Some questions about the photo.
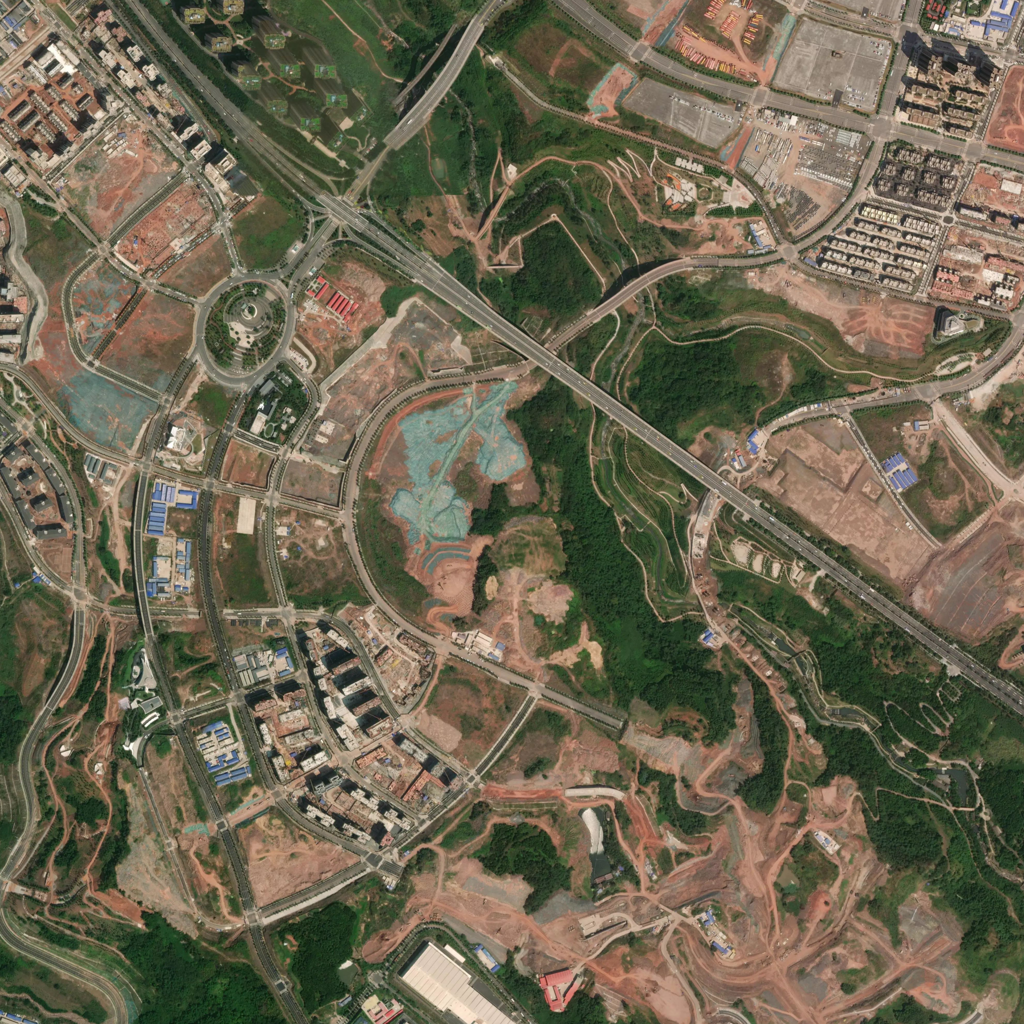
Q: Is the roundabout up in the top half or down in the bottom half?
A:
top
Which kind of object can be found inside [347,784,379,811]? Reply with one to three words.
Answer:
building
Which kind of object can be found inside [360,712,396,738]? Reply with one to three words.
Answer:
building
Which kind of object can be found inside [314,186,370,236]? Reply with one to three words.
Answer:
overpass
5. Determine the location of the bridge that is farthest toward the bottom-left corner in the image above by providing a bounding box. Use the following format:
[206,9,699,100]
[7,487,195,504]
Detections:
[40,593,86,721]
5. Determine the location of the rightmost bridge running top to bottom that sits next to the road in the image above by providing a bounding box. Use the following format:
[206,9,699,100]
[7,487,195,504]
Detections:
[132,465,154,633]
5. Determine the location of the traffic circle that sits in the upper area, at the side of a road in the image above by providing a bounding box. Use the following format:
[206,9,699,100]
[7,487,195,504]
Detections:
[195,271,296,385]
